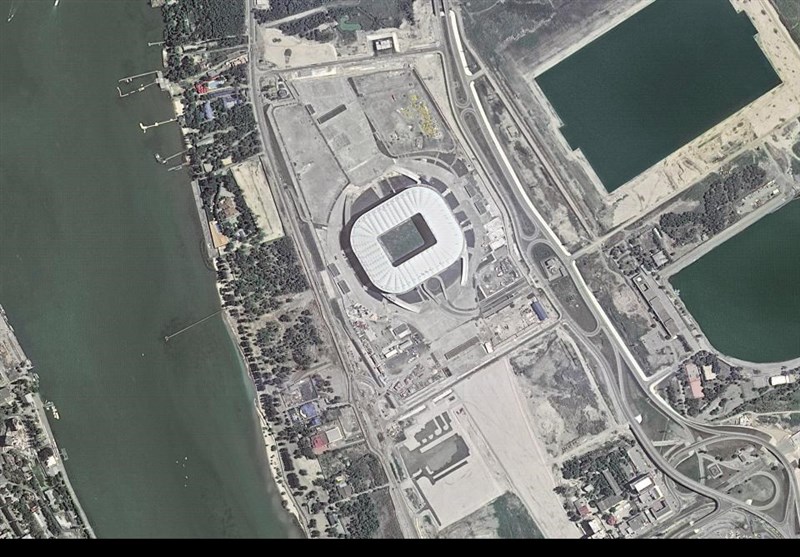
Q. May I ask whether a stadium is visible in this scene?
Yes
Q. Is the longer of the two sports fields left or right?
left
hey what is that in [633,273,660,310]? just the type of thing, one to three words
building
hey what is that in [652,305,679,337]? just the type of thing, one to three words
building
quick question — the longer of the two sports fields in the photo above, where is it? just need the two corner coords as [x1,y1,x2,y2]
[232,155,284,243]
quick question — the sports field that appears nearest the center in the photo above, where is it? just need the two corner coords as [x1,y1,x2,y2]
[378,214,436,266]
